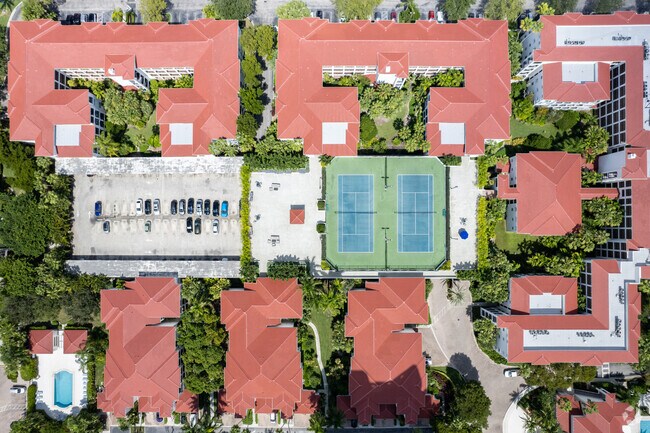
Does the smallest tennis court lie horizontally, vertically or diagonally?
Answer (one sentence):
The smallest tennis court is oriented vertically.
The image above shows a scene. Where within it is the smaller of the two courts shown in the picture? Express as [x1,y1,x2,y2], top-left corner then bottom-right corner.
[397,174,434,253]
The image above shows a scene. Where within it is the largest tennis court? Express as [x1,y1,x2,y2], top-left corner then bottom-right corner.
[326,158,446,270]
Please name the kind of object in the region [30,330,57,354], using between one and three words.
building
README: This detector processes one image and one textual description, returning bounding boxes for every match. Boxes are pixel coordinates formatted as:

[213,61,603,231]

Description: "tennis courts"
[397,174,434,253]
[326,158,446,270]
